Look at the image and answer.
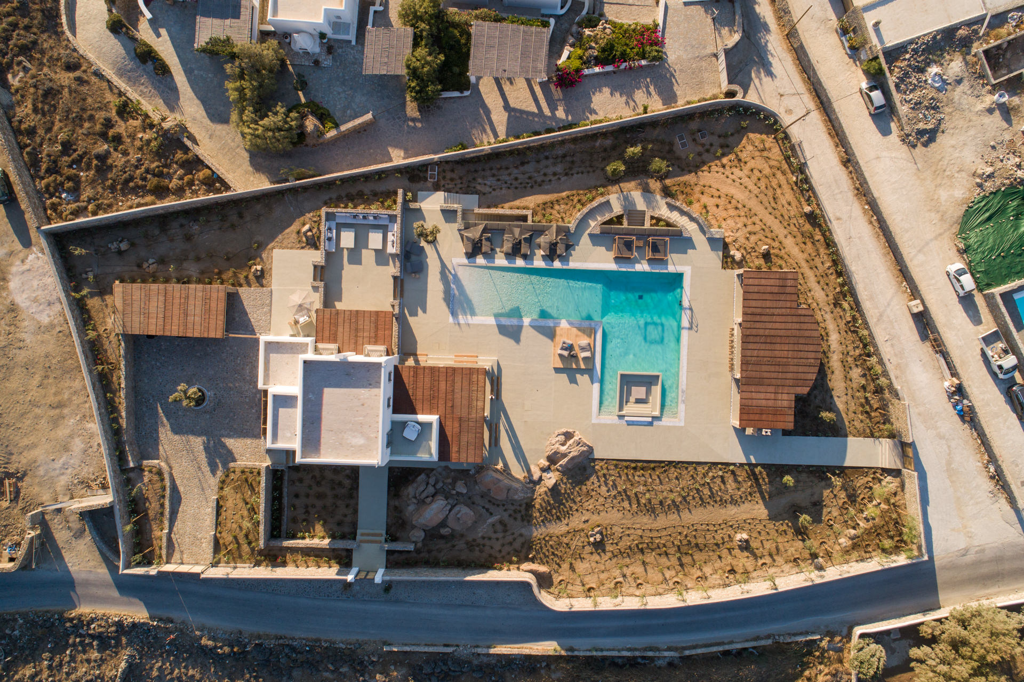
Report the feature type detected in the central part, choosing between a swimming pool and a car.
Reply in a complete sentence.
The feature located in the central part is a swimming pool.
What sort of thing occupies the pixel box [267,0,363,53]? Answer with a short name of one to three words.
house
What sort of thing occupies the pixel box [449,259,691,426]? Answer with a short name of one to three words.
swimming pool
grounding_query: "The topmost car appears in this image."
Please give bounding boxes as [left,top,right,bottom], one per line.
[859,75,891,116]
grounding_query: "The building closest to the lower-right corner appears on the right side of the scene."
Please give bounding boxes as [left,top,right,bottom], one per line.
[730,266,824,433]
